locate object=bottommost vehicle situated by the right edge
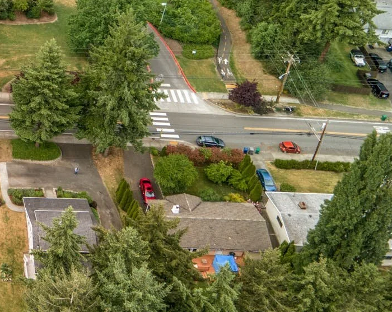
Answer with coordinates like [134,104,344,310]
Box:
[370,76,392,95]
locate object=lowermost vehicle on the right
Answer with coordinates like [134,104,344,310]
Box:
[257,165,276,188]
